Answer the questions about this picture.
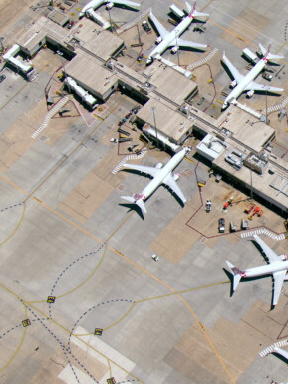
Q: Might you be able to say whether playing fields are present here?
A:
No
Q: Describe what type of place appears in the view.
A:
airport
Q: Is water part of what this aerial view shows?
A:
No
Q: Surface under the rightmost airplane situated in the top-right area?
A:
apron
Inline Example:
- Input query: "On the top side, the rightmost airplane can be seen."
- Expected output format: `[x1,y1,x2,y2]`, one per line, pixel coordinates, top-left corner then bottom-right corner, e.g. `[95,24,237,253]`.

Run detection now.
[222,42,285,108]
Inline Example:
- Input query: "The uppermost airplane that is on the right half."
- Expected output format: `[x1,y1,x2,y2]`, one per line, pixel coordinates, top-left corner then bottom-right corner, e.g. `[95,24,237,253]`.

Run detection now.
[146,0,209,64]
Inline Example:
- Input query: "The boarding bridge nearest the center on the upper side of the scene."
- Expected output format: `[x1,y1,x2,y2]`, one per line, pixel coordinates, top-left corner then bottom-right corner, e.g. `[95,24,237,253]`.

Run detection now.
[142,124,187,161]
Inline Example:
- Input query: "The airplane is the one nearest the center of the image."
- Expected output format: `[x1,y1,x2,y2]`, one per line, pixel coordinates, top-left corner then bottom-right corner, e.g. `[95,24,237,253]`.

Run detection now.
[123,149,190,213]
